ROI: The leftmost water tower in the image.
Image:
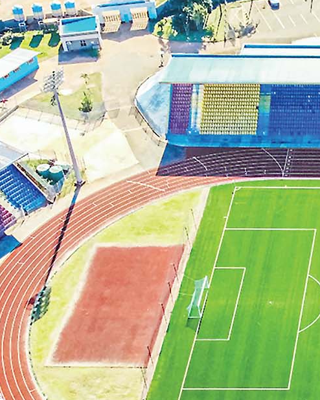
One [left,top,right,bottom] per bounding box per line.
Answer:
[9,0,29,32]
